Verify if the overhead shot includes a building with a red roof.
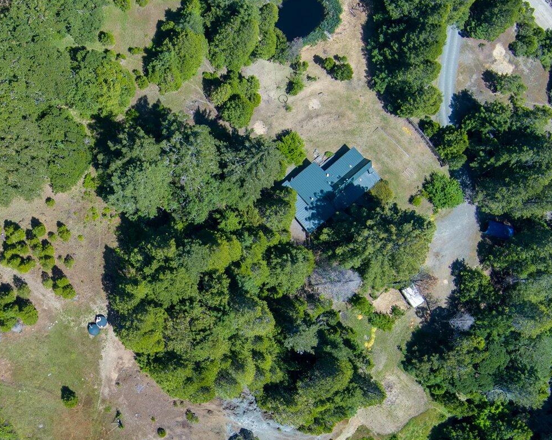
No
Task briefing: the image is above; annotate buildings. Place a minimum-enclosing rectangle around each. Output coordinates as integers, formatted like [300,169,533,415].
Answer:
[286,146,381,234]
[397,284,424,307]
